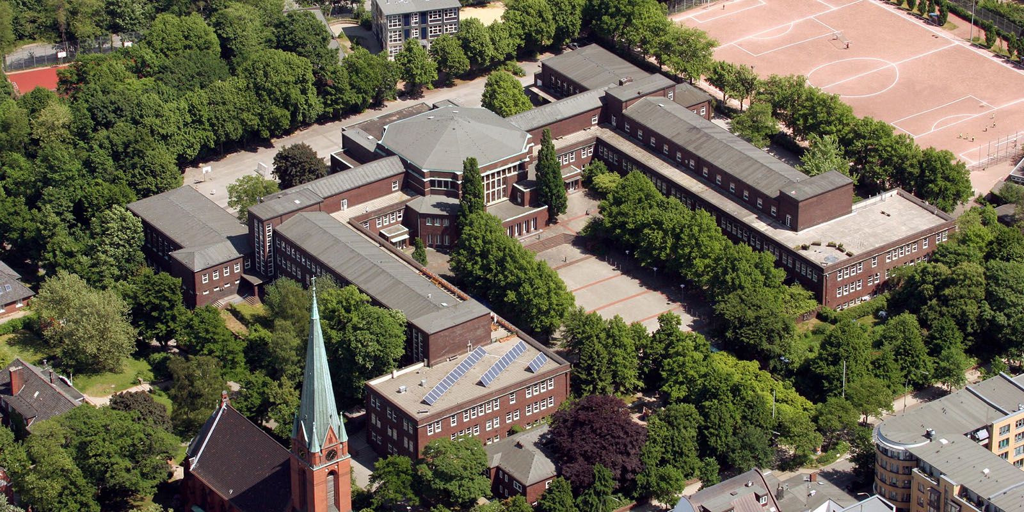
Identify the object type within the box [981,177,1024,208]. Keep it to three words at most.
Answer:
shed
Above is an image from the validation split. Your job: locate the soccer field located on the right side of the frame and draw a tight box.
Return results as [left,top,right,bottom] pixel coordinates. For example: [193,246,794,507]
[592,0,1024,194]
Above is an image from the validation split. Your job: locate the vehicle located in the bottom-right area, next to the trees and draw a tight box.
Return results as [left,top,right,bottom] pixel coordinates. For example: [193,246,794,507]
[836,477,857,492]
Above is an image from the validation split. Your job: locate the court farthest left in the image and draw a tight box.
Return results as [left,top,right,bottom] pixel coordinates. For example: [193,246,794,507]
[10,66,77,116]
